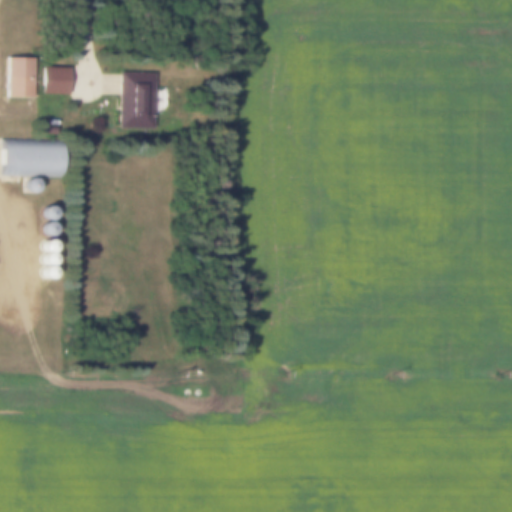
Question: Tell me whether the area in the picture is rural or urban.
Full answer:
It looks rural.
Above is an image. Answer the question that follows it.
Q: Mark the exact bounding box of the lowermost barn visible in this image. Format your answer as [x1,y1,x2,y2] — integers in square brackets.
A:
[2,140,68,178]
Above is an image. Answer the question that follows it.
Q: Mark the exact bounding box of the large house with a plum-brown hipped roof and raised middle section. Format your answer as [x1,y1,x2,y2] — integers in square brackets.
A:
[116,70,168,128]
